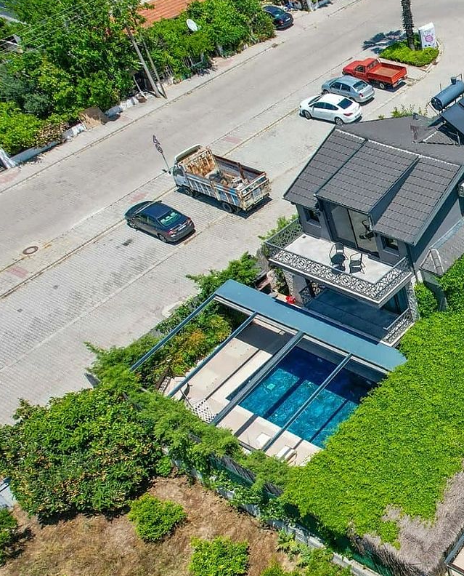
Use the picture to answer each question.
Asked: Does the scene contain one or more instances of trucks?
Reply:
Yes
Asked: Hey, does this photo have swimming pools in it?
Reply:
Yes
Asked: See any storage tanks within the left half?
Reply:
No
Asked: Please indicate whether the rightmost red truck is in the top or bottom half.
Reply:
top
